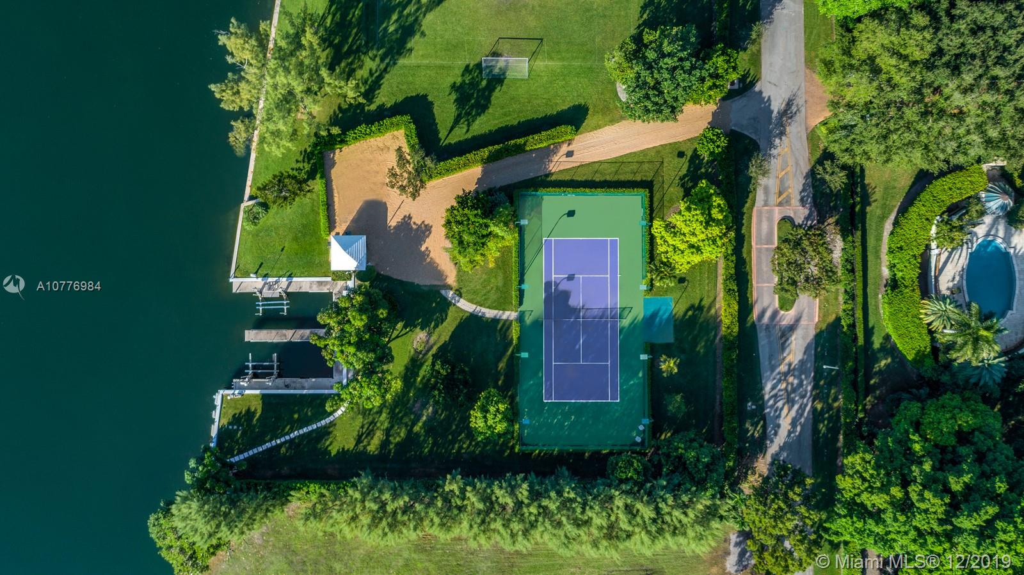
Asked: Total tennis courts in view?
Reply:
1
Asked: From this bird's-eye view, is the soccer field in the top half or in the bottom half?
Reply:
top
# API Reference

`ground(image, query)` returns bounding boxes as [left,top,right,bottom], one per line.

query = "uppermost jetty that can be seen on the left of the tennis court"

[232,280,347,301]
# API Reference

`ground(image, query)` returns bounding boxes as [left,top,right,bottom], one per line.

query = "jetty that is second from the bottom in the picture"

[244,328,322,342]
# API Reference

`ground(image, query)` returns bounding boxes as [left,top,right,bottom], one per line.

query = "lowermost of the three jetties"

[234,358,344,389]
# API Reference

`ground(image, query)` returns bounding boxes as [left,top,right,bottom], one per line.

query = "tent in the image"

[331,235,369,270]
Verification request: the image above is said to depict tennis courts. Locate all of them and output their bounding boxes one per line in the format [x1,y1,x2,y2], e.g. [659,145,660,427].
[519,195,641,445]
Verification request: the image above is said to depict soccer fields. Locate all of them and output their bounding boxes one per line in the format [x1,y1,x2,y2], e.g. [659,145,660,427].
[377,0,634,63]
